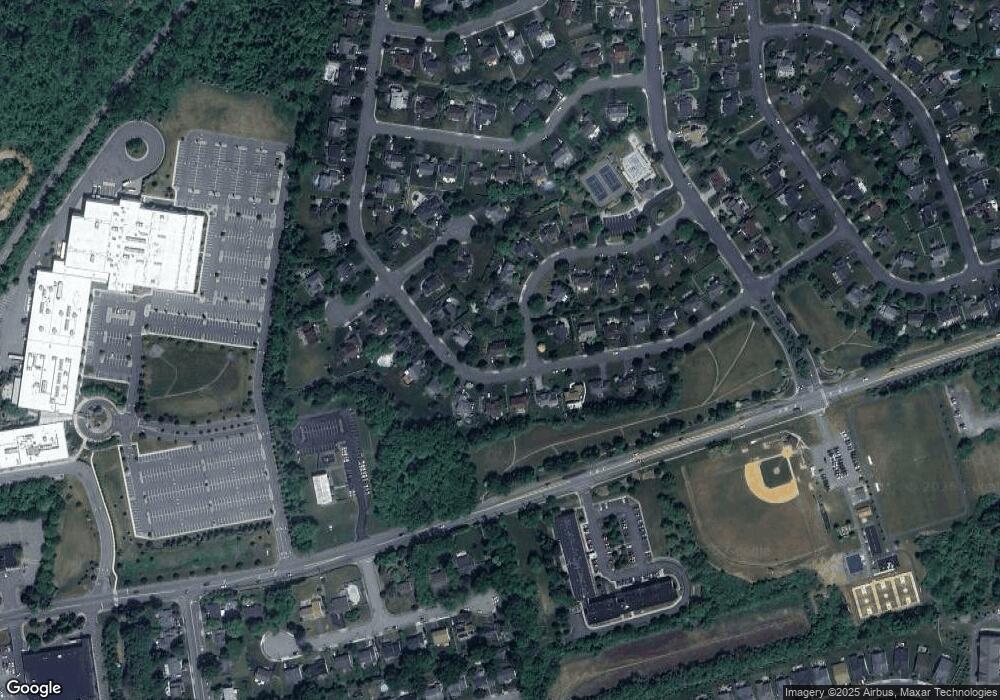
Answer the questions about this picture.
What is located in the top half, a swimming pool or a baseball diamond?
swimming pool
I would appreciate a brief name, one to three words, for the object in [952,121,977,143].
house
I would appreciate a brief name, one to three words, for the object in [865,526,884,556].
building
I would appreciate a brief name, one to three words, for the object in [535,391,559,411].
house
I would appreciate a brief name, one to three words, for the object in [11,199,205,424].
building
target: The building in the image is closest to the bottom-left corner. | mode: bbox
[21,635,99,700]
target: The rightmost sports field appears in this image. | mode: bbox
[864,397,962,530]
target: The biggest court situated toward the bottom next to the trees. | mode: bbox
[858,572,924,619]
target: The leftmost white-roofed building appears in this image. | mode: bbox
[0,422,68,469]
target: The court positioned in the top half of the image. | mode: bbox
[582,165,625,206]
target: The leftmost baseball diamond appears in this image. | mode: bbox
[681,443,834,579]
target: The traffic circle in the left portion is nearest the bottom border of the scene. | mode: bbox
[74,396,118,441]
